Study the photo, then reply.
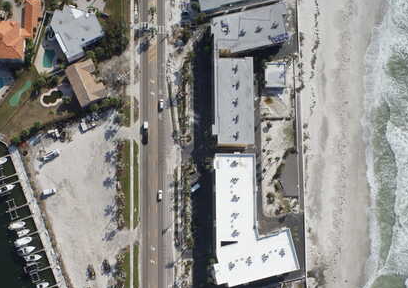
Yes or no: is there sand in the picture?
Yes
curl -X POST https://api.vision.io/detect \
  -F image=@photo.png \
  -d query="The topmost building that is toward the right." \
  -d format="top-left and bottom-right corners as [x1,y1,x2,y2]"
[210,2,288,59]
